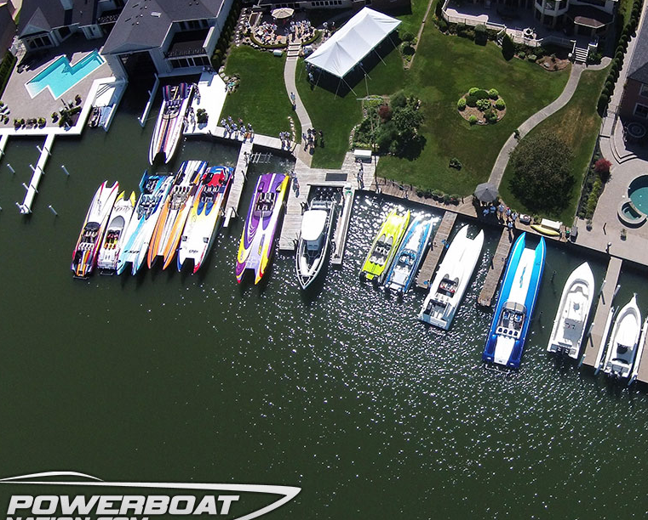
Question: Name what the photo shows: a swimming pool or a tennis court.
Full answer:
It is a swimming pool that can be seen here.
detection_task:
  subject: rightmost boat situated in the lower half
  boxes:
[603,290,641,383]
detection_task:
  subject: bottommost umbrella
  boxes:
[475,181,501,202]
